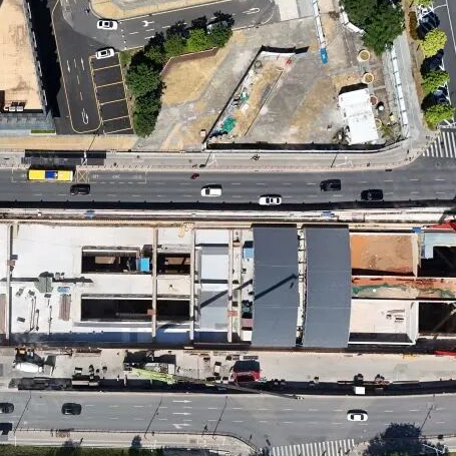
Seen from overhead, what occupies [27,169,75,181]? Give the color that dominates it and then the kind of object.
yellow vehicle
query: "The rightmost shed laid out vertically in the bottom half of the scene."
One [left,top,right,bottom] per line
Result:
[298,226,352,347]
